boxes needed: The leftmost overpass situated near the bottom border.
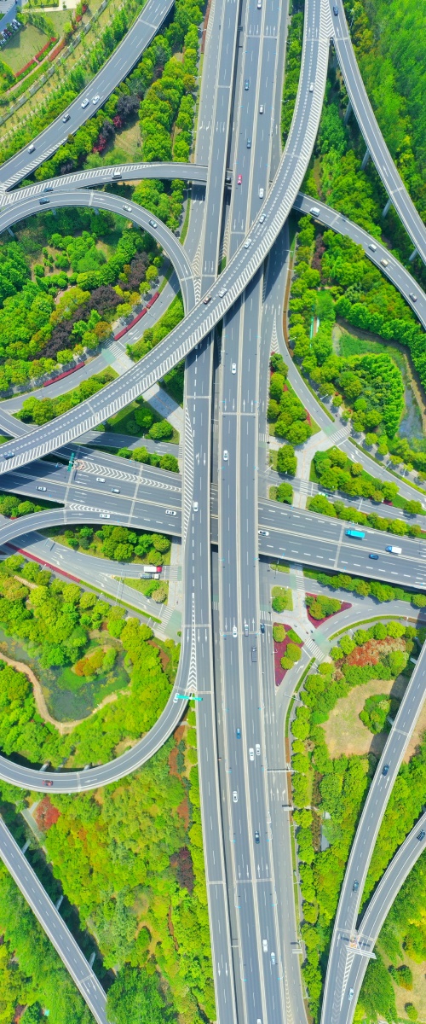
[0,817,126,1024]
